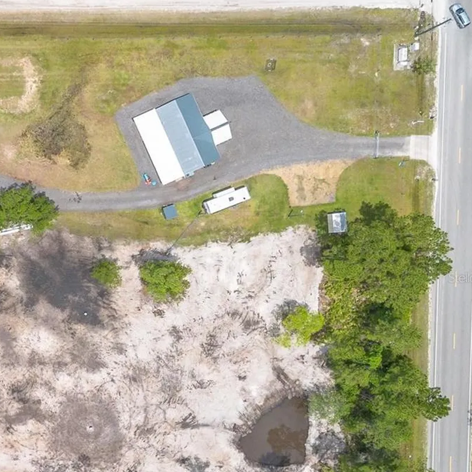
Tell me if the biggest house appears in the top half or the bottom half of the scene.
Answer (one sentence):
The top half of the photo is where the biggest house is.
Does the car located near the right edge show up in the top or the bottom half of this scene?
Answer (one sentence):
It is in the top half that the car located near the right edge appears.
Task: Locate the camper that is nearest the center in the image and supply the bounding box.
[201,186,256,216]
